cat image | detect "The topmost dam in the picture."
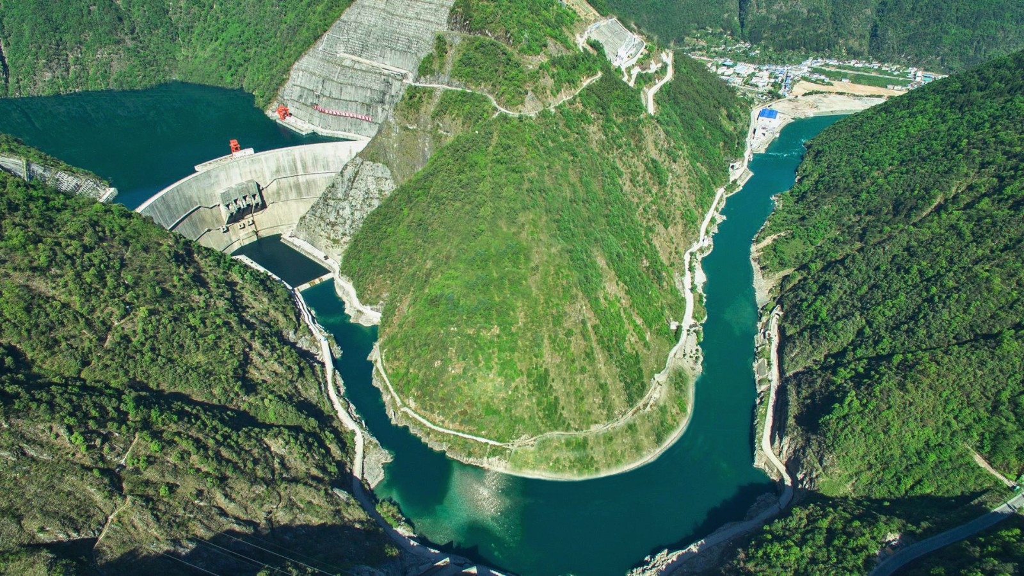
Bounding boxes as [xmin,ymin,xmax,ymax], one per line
[128,138,379,251]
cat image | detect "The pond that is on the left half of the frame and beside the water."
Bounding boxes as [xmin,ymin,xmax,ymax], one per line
[0,81,341,213]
